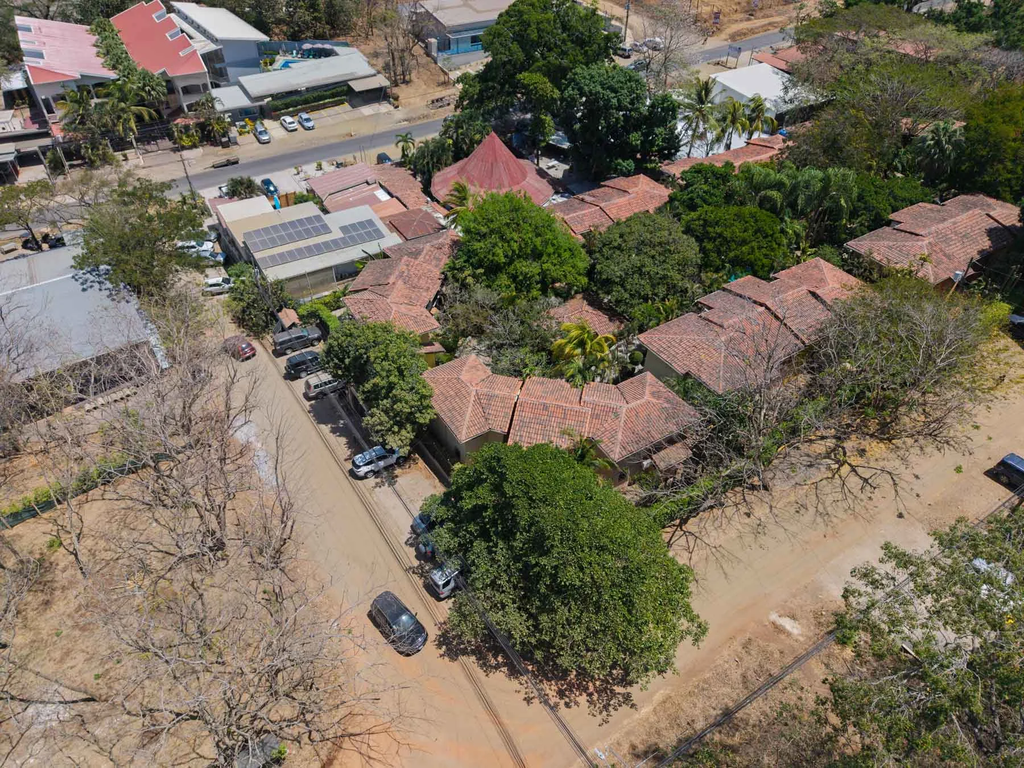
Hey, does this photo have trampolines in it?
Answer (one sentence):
No, the picture doesn't show any trampoline.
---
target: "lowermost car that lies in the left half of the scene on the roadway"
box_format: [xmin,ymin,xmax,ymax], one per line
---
[371,588,431,660]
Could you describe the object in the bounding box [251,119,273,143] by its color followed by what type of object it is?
gray car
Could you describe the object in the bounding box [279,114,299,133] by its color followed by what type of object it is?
white car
